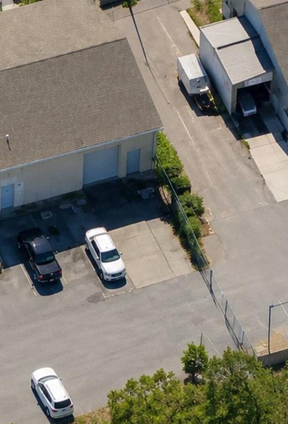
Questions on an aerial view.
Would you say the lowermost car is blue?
No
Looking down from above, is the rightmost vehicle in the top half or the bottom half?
top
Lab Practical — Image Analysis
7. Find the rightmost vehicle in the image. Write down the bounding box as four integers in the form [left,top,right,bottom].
[239,85,267,117]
